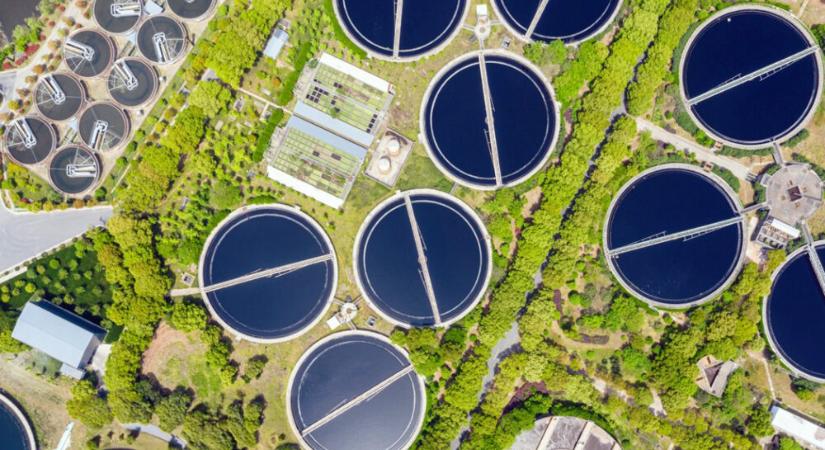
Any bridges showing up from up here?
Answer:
Yes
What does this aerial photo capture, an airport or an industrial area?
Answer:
industrial area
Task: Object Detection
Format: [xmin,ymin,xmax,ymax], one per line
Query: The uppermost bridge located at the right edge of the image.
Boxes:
[685,45,822,107]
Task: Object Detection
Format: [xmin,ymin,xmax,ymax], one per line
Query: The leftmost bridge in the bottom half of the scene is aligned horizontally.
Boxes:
[198,254,336,293]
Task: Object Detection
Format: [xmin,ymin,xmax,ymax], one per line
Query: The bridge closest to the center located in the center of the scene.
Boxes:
[403,190,442,327]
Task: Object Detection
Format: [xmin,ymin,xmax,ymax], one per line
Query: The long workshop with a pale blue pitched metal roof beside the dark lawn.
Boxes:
[12,299,105,379]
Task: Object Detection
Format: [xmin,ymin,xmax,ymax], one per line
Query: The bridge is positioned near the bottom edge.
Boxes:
[295,361,417,440]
